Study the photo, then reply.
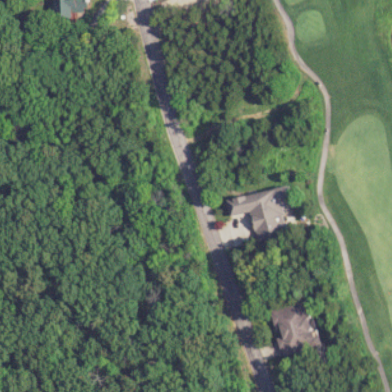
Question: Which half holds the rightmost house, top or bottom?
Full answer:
The rightmost house is in the bottom half of the image.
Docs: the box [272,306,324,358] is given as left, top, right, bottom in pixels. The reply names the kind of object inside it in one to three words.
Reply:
house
